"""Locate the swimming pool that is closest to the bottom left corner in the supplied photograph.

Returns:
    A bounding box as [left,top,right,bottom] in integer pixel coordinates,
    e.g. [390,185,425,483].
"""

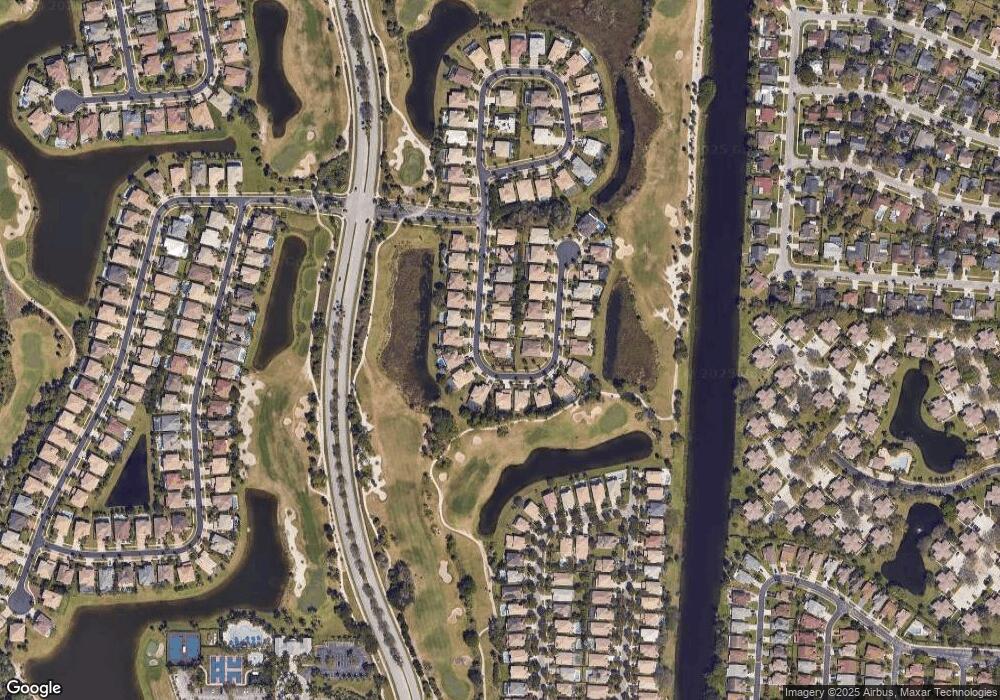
[223,620,271,649]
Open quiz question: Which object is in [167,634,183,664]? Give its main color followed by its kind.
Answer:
blue tennis court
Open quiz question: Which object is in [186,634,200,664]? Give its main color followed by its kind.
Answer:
blue tennis court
